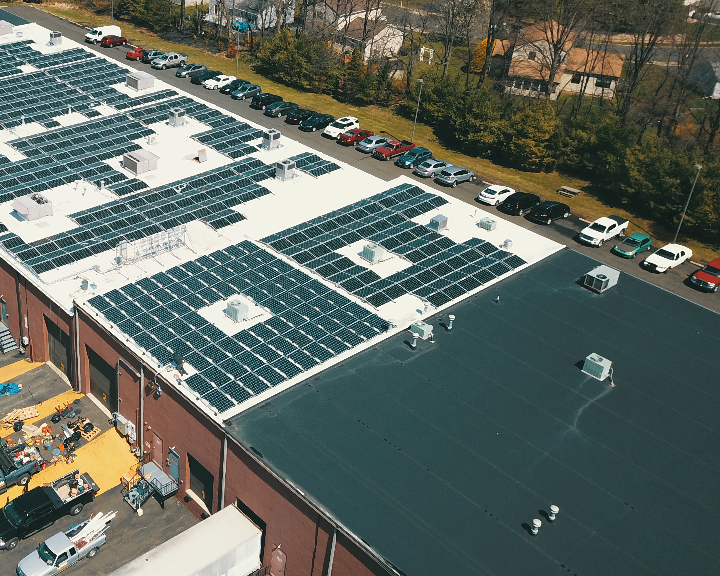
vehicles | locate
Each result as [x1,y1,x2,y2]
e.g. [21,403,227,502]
[0,470,100,550]
[247,86,286,109]
[642,240,691,273]
[477,179,522,204]
[0,441,47,490]
[126,42,155,58]
[687,251,720,293]
[9,518,108,576]
[393,142,434,168]
[171,60,208,77]
[370,135,416,160]
[185,65,223,82]
[576,208,633,247]
[503,187,545,213]
[199,71,236,88]
[435,160,480,187]
[284,104,319,123]
[84,19,124,41]
[263,96,303,116]
[355,132,389,152]
[139,46,167,63]
[413,153,453,177]
[609,224,656,258]
[337,124,378,145]
[317,111,359,137]
[224,80,263,100]
[528,196,573,224]
[150,48,192,70]
[299,109,338,131]
[96,30,132,47]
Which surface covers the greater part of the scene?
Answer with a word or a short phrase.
buildings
